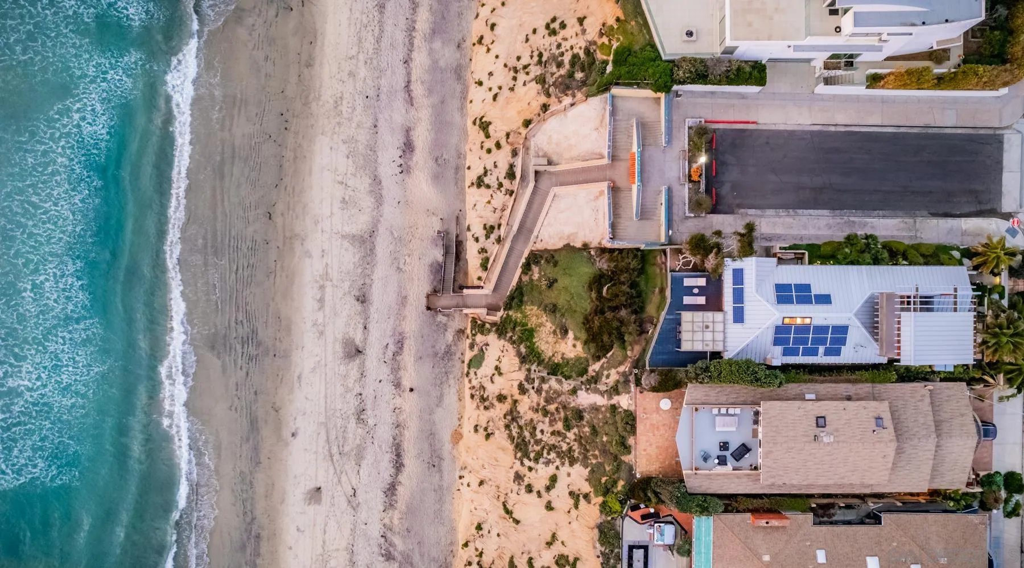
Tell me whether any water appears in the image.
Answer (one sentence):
Yes, there is water in the image.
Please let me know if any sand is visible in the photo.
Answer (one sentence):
Yes, sand can be seen from above here.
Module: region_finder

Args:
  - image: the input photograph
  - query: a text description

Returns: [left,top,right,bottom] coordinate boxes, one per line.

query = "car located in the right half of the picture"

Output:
[979,420,996,441]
